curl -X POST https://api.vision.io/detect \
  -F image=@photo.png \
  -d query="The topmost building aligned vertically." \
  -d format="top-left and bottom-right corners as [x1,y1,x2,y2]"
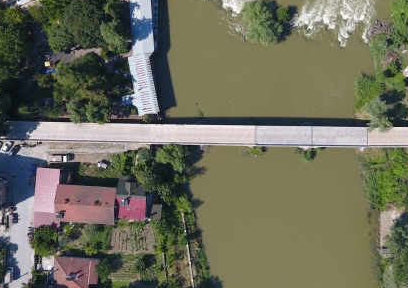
[130,0,155,49]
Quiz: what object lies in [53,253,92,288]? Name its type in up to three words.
house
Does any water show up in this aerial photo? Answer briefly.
Yes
